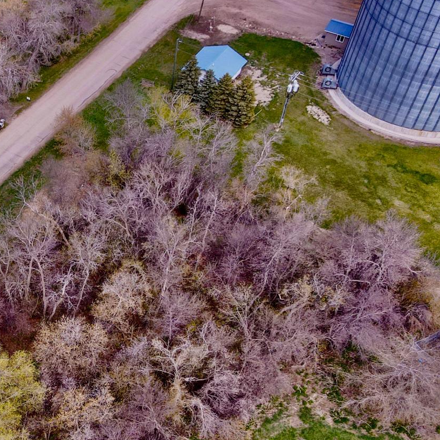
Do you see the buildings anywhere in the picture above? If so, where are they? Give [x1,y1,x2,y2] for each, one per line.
[176,42,247,82]
[324,20,357,52]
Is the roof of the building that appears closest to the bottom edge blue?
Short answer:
Yes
